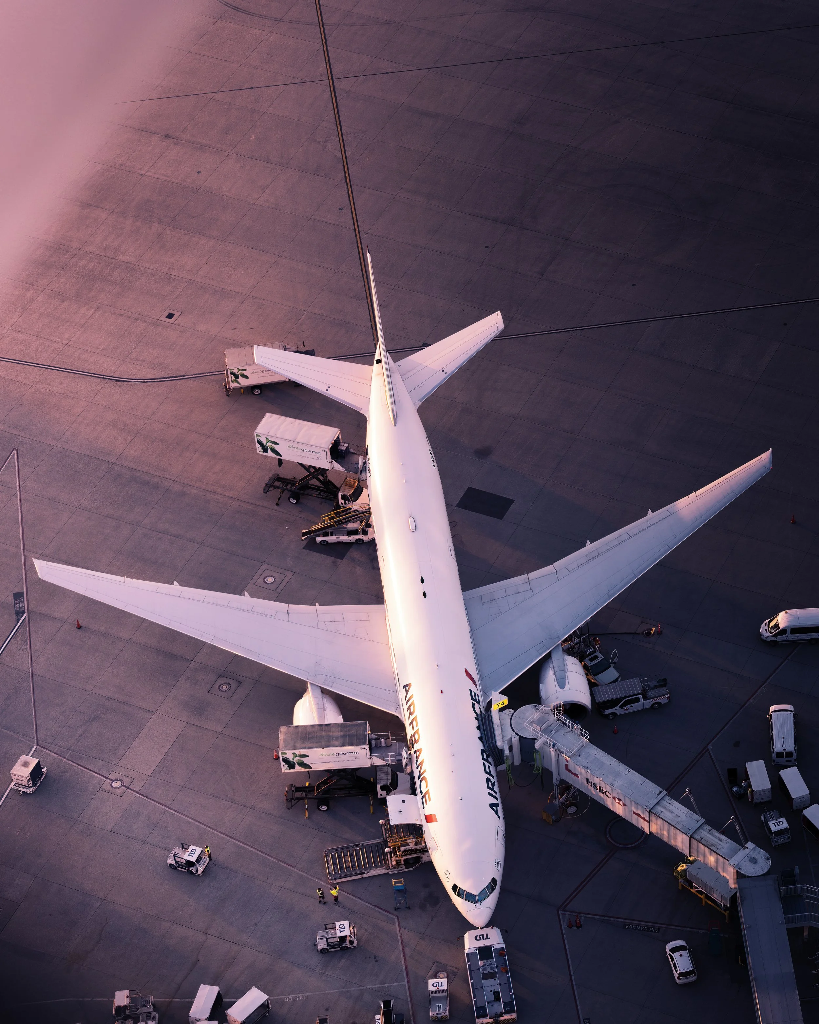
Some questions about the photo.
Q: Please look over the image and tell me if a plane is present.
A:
Yes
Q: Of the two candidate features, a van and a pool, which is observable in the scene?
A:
van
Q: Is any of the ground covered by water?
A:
No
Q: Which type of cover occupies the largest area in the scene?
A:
paved ground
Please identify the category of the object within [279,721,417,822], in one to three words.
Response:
truck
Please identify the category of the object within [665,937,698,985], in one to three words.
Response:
car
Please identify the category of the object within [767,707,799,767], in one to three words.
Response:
van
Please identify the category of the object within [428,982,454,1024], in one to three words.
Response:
work vehicle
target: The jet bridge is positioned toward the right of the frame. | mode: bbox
[478,693,765,928]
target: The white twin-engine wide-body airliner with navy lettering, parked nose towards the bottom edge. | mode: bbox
[34,245,773,931]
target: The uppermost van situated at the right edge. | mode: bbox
[760,608,819,648]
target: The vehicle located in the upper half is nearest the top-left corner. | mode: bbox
[221,335,323,395]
